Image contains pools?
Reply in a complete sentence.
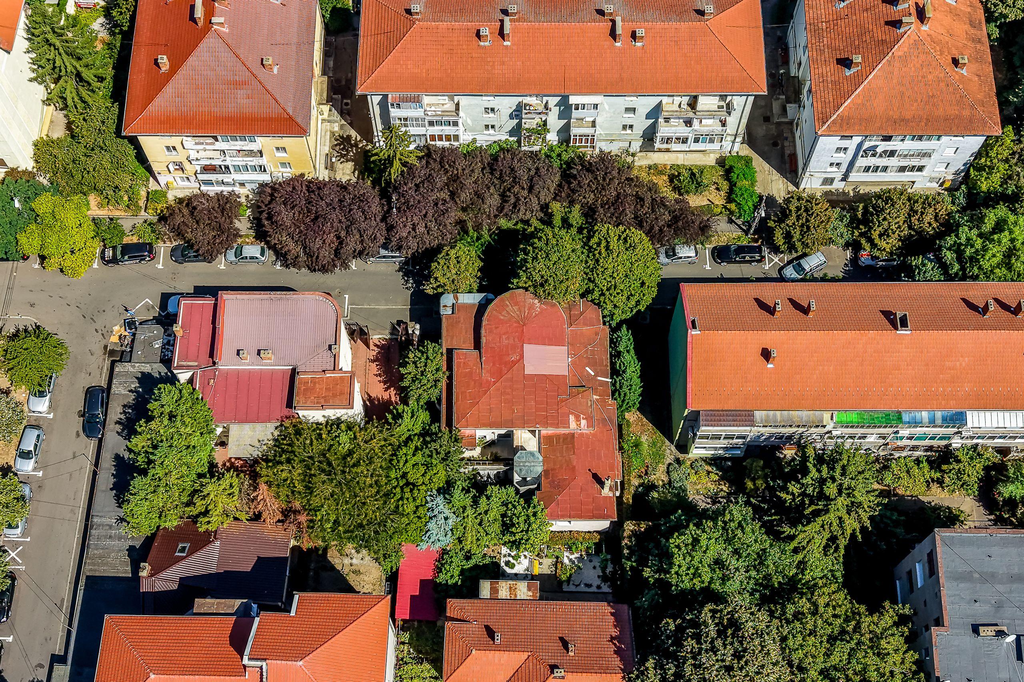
No, I can see no pool in this picture.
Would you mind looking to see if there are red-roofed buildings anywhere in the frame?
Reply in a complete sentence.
Yes, the photo shows a red-roofed building.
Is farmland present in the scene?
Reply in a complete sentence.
No, farmland can't be seen anywhere here.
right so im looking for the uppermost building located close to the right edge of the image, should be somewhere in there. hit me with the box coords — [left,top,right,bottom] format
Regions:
[772,0,1002,181]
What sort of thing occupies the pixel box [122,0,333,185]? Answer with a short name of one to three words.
building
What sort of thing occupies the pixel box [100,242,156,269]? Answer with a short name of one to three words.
car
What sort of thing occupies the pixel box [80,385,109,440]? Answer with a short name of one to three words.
car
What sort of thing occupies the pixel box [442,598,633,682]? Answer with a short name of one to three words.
house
